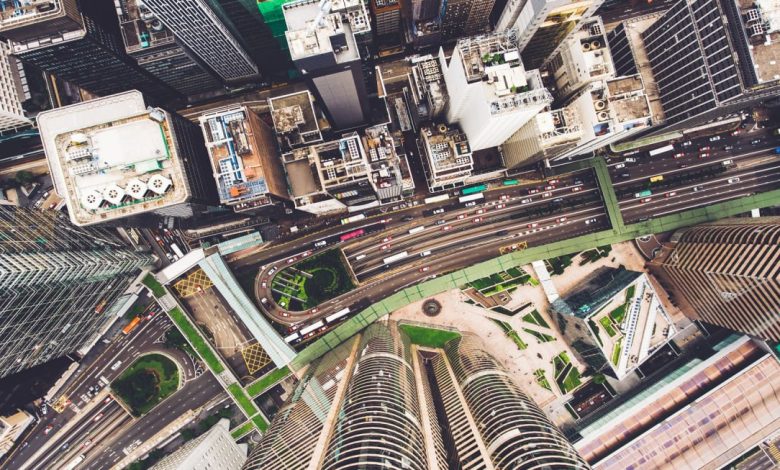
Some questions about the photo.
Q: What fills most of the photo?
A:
buildings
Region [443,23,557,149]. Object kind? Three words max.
building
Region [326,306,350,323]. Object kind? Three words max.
vehicle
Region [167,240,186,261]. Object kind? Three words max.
vehicle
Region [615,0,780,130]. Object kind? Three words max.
building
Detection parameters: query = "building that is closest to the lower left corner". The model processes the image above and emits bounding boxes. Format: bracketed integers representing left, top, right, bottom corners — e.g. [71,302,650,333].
[0,397,42,453]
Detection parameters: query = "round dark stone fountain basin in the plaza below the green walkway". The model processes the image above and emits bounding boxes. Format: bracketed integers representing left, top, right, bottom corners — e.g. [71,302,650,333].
[421,297,442,318]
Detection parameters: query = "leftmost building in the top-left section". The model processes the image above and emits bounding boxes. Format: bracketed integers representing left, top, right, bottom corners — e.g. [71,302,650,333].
[0,78,55,159]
